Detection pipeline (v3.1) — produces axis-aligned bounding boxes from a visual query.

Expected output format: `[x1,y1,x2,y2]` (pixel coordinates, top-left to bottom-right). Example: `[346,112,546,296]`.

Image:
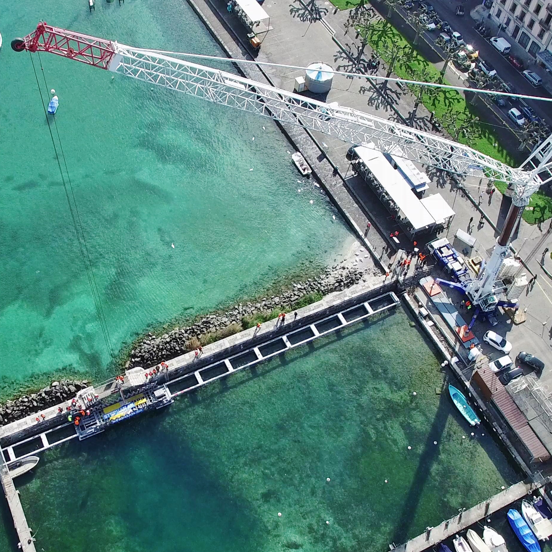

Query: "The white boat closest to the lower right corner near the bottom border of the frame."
[521,499,552,552]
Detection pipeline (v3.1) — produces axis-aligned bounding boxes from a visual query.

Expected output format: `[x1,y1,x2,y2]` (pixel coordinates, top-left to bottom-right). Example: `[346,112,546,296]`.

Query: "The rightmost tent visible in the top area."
[419,193,456,235]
